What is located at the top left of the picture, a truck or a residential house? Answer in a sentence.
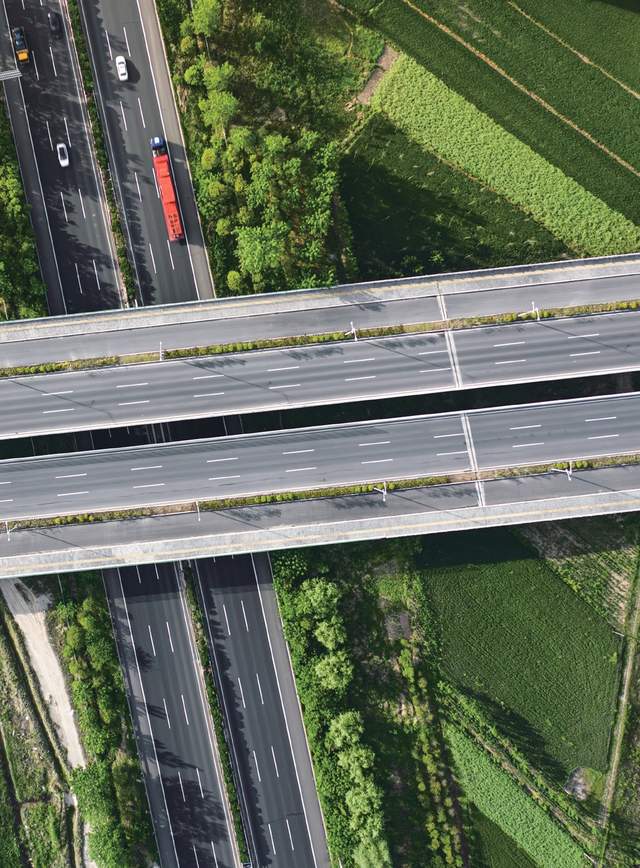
There is a truck at the top left of the picture.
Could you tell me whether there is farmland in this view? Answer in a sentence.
Yes, farmland shows up in the scene.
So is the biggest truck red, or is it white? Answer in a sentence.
From above, the biggest truck appears red.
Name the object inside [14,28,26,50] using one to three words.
vehicle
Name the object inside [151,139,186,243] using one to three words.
truck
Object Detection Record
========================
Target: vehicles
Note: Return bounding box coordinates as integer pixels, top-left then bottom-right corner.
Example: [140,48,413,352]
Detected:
[151,139,186,243]
[58,142,70,167]
[12,26,31,65]
[115,57,127,80]
[14,28,26,50]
